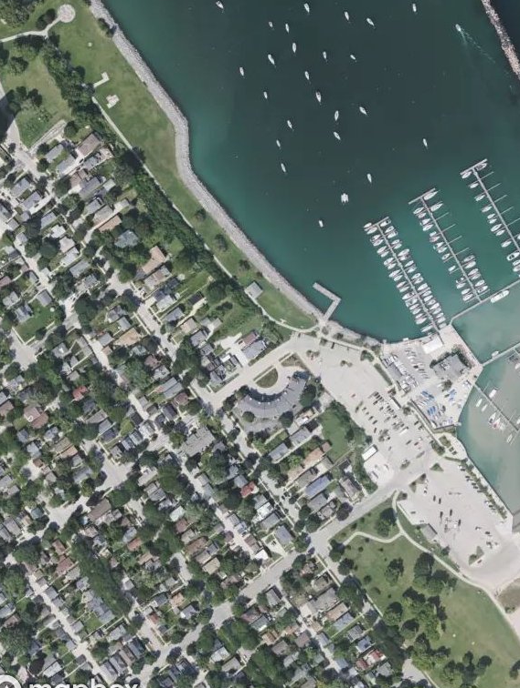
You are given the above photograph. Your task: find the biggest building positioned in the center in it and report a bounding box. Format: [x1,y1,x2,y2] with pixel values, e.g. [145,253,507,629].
[236,380,310,419]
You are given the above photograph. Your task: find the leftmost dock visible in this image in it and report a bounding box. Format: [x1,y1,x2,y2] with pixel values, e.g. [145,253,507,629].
[313,283,340,325]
